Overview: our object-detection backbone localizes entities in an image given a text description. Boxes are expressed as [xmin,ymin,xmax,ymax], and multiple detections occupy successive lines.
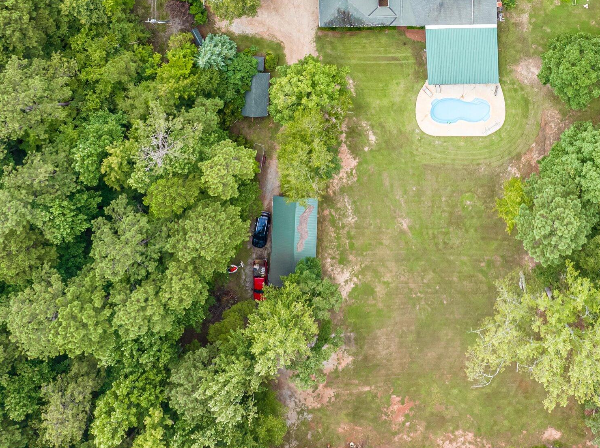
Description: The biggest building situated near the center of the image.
[269,195,320,288]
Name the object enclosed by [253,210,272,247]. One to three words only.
car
